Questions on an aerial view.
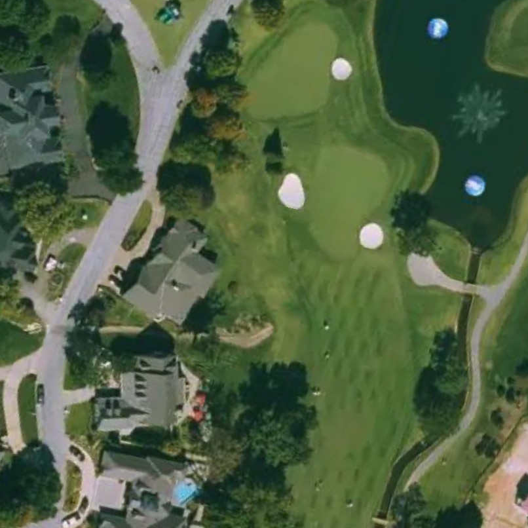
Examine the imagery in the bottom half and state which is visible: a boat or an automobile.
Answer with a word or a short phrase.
automobile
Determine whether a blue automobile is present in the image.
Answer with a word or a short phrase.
No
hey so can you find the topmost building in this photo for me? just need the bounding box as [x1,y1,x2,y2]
[0,65,64,174]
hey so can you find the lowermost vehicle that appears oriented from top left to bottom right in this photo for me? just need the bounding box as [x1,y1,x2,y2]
[69,442,86,459]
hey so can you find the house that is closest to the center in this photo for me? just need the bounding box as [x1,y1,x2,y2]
[125,215,218,331]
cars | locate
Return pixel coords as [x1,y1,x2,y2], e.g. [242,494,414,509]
[36,385,44,403]
[111,262,125,280]
[78,493,90,512]
[44,255,58,274]
[106,275,124,293]
[69,442,86,459]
